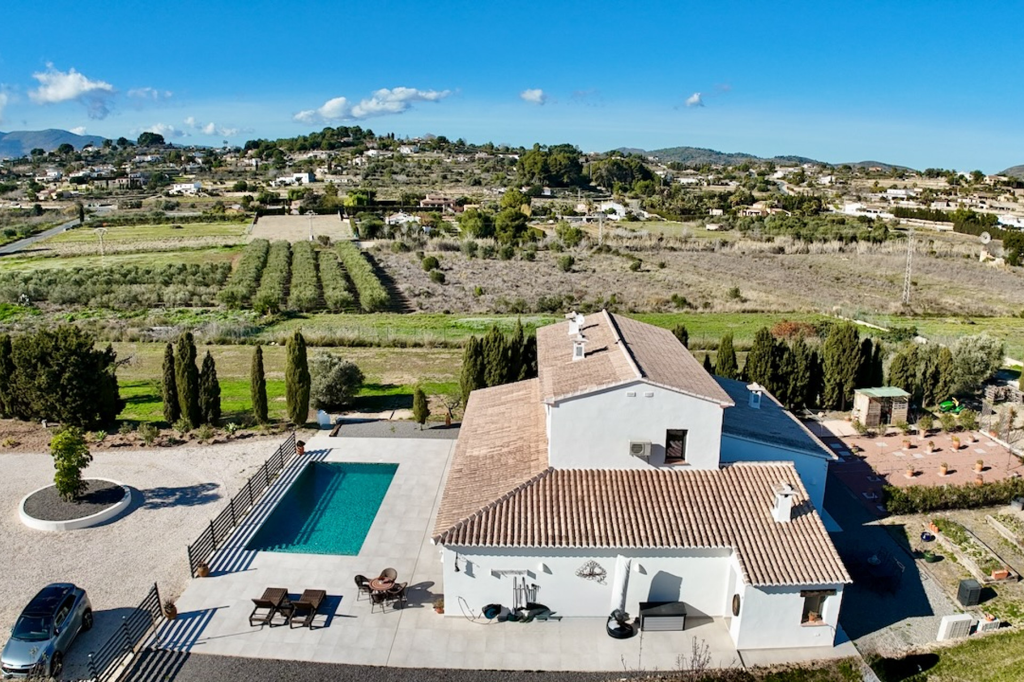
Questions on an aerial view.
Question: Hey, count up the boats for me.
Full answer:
The photo contains no boats.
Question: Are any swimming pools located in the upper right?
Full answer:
No, no swimming pool appears in the upper right.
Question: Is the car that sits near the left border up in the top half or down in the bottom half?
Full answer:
It is in the bottom half that the car that sits near the left border appears.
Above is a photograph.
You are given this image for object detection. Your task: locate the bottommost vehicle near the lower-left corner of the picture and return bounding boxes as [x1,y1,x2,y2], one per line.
[0,581,94,678]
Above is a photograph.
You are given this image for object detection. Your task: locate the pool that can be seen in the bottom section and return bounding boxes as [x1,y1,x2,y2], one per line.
[248,461,396,553]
